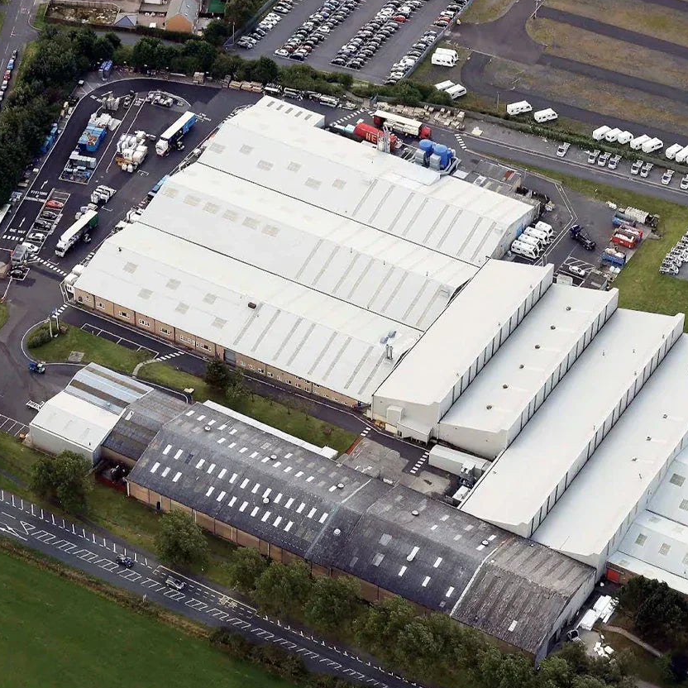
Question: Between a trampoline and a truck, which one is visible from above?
truck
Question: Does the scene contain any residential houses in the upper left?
Yes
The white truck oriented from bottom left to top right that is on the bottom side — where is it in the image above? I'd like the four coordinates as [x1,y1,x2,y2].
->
[580,591,610,629]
